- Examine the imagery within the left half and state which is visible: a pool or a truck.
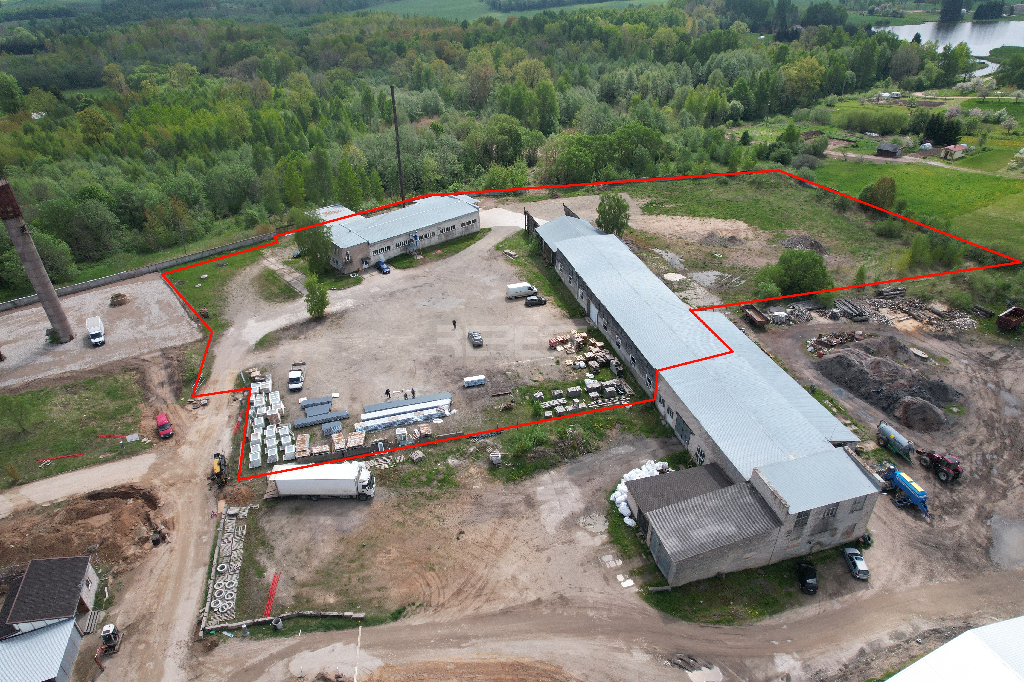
truck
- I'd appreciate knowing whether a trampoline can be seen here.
No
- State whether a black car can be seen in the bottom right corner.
Yes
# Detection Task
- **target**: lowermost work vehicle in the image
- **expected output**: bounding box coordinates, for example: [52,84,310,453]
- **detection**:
[86,624,122,682]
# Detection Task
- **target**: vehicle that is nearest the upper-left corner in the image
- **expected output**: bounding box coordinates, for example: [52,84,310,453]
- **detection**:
[83,314,106,347]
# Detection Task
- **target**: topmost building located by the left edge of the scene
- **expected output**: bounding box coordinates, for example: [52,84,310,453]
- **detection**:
[0,556,108,643]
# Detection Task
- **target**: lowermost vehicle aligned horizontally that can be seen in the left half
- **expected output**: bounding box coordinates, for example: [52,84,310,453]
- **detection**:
[266,463,377,501]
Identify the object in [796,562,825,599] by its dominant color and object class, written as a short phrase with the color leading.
black car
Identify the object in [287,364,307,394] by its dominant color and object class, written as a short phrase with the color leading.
white vehicle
